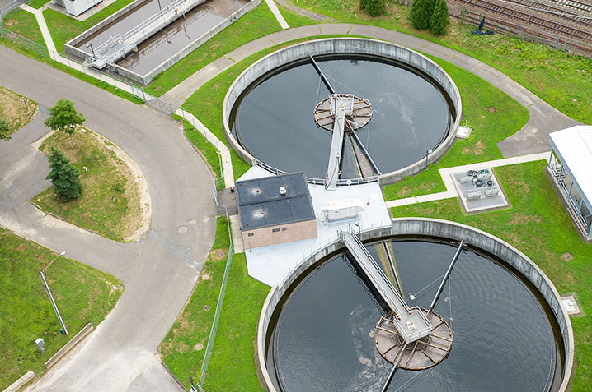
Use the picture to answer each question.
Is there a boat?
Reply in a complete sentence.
No, the photo shows no boat.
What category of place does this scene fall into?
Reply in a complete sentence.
The picture captures an industrial area.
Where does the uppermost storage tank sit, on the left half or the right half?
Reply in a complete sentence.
The uppermost storage tank sits on the left side.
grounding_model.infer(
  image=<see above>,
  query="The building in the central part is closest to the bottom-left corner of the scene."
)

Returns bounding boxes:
[241,171,324,250]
